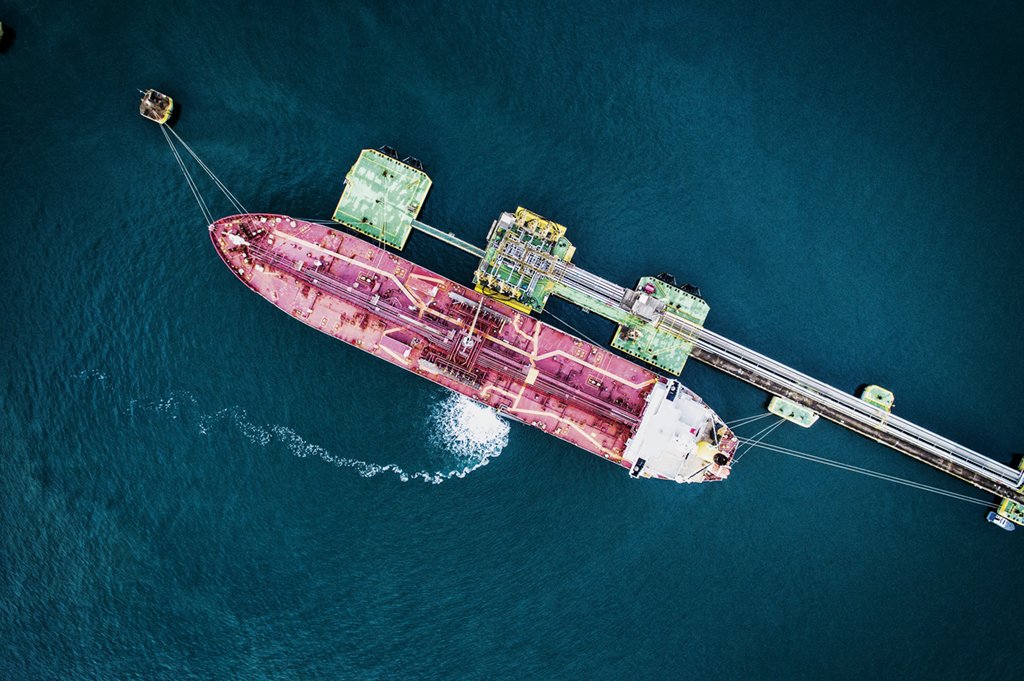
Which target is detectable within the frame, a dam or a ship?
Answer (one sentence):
The one in the frame is a ship.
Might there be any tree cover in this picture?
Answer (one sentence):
No, there's no tree cover in this view.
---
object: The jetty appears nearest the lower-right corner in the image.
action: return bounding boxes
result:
[689,333,1024,507]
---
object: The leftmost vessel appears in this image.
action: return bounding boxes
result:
[208,213,741,484]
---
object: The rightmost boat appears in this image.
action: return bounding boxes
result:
[987,512,1015,531]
